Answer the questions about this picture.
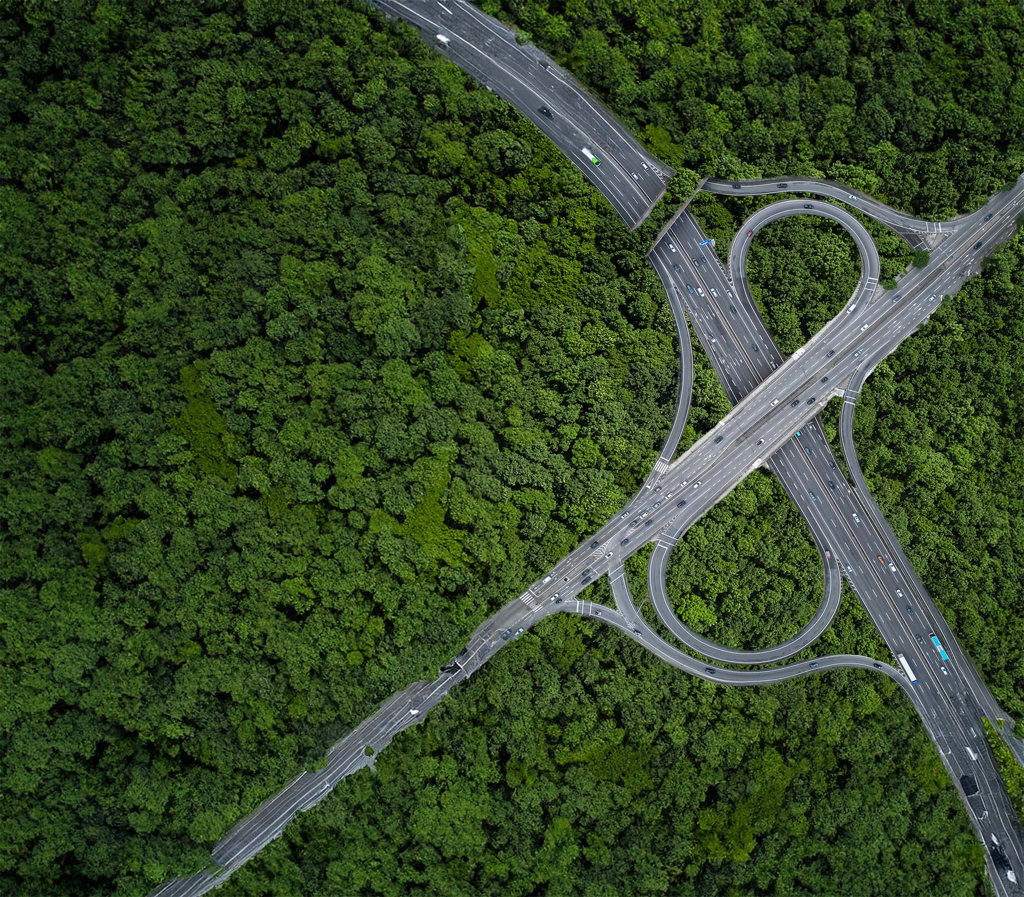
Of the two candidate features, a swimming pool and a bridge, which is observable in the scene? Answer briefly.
bridge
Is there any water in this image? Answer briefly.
No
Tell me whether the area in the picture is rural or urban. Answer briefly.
rural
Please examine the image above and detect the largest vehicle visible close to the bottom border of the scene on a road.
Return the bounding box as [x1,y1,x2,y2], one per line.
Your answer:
[995,847,1014,884]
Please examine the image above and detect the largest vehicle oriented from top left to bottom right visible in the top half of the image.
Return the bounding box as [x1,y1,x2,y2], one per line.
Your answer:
[582,145,600,166]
